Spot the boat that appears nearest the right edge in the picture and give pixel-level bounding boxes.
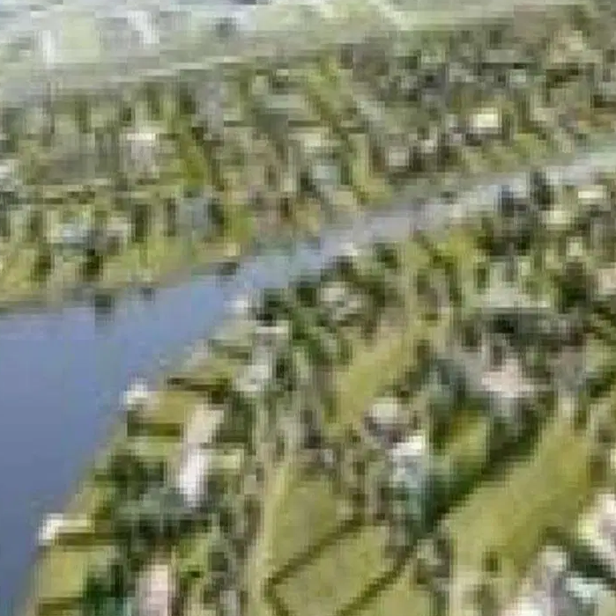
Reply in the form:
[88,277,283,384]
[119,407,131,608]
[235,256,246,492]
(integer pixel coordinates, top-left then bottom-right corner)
[219,257,241,271]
